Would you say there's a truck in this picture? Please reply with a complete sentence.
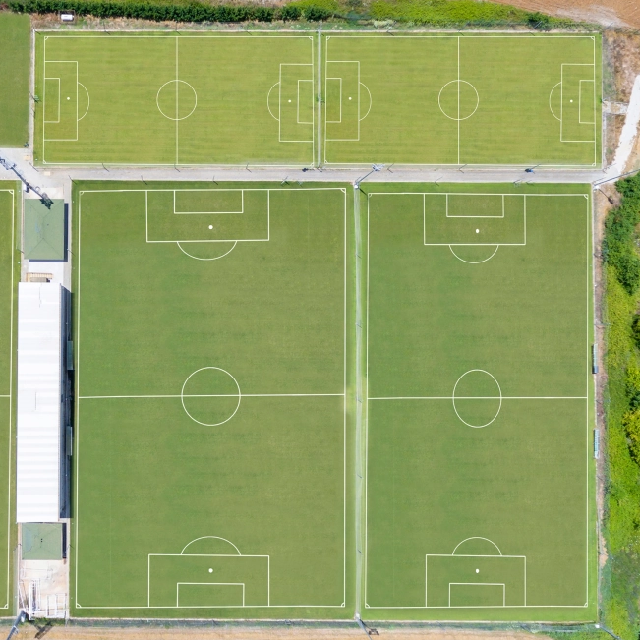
No, there isn't any truck down there.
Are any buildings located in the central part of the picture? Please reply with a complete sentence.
No, no building can be made out in the central part of the picture.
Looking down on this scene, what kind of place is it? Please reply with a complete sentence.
It's a sports ground.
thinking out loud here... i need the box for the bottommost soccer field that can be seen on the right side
[358,183,599,622]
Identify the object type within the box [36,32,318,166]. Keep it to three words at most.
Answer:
soccer field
